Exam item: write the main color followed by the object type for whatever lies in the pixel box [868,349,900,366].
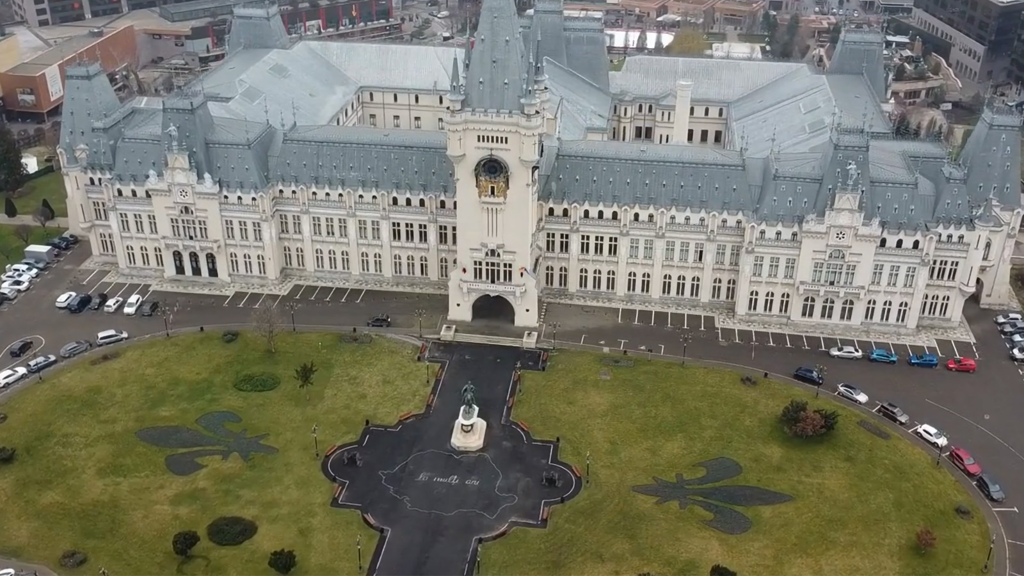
blue car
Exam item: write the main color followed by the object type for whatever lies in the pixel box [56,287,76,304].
white car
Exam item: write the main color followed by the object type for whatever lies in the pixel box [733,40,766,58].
white tent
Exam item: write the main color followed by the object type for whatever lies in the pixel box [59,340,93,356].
gray car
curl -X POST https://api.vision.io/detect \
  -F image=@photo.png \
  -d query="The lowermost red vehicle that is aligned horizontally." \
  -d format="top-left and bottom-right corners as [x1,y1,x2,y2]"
[947,360,978,375]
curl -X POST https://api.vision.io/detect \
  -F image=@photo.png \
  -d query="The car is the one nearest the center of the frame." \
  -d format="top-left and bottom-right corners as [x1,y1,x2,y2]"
[364,314,394,328]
